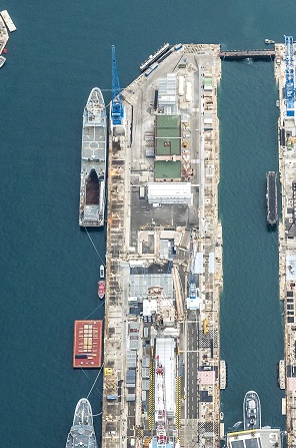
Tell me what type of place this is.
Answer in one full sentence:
It's a port.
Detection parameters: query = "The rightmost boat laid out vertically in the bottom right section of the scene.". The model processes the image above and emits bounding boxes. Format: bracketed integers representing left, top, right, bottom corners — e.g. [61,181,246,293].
[242,391,261,431]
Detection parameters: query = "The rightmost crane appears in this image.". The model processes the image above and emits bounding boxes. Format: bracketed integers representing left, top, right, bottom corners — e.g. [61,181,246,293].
[284,39,296,119]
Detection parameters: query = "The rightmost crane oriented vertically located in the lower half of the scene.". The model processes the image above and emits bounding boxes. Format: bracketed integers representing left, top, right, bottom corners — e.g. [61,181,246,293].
[184,232,201,317]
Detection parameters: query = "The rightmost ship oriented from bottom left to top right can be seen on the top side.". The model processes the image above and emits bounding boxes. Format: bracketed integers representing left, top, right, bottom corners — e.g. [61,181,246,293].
[141,45,169,71]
